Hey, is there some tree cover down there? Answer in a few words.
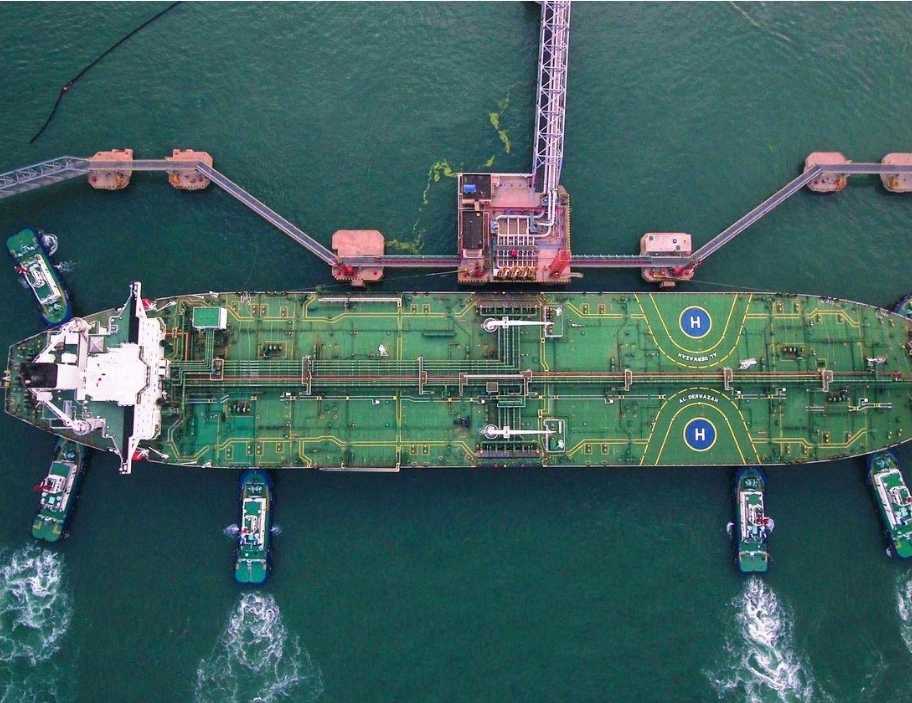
No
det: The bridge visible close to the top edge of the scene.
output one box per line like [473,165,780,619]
[533,0,573,211]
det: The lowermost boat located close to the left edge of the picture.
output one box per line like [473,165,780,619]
[25,437,82,544]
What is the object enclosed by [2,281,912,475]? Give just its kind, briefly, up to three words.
ship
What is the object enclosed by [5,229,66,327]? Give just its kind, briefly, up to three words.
boat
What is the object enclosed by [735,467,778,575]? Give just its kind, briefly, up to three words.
boat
